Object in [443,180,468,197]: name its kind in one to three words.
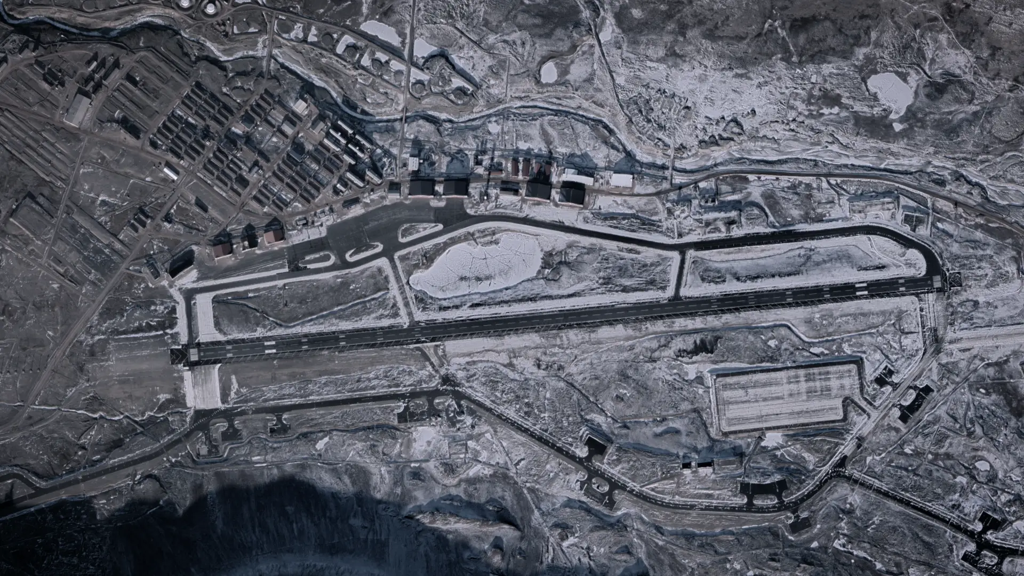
hangar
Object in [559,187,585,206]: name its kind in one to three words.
hangar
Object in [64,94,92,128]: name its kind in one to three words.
building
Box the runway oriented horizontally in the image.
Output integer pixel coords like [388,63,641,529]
[184,276,942,361]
